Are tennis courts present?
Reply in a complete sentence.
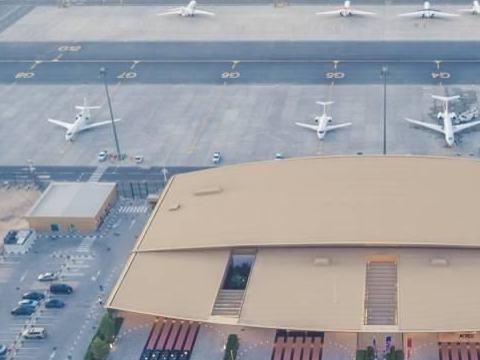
No, the frame has no tennis court in it.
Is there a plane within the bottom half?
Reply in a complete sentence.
No, I see no plane within the bottom half.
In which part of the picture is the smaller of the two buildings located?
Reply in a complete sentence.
The smaller of the two buildings sits in the left section of the image.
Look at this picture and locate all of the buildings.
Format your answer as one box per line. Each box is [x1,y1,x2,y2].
[103,155,480,334]
[21,181,118,235]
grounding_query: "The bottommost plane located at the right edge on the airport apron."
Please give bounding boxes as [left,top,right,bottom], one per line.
[405,96,480,146]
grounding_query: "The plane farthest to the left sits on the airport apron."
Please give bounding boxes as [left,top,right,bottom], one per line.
[47,97,121,141]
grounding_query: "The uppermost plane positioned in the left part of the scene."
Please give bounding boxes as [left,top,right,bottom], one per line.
[154,2,215,18]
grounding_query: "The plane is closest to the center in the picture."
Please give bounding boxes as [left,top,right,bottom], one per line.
[295,101,351,143]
